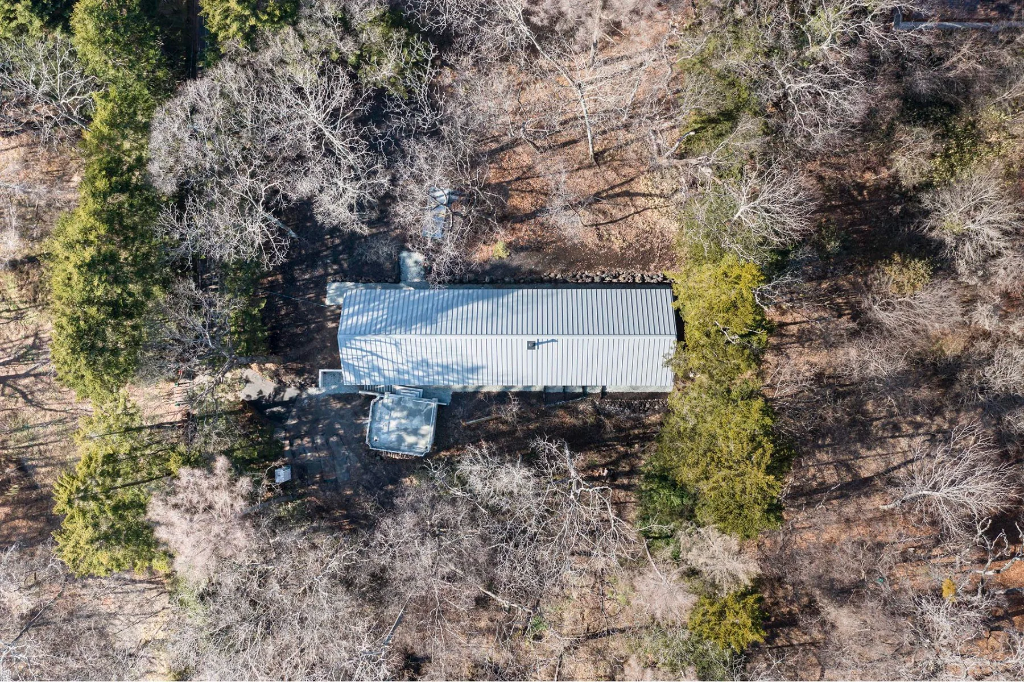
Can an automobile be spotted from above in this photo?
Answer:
No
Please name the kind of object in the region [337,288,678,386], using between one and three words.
house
